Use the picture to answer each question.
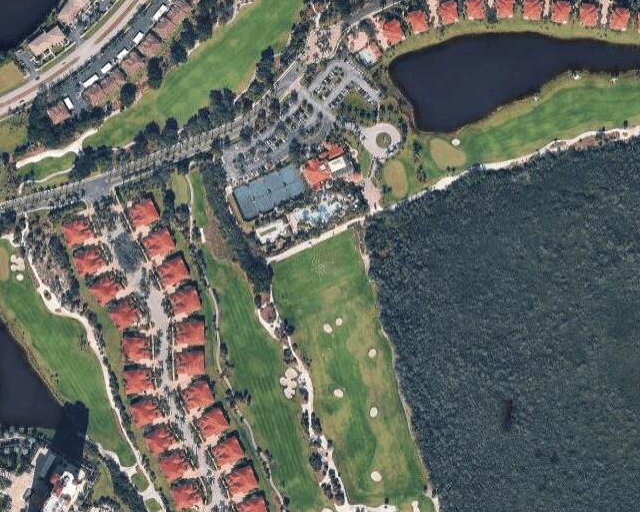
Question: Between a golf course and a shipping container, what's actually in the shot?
golf course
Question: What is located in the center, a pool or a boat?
pool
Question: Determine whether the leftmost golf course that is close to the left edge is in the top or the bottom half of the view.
bottom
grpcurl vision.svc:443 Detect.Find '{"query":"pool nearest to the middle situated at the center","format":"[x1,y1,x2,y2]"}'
[293,192,359,227]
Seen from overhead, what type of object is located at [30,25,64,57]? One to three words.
building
